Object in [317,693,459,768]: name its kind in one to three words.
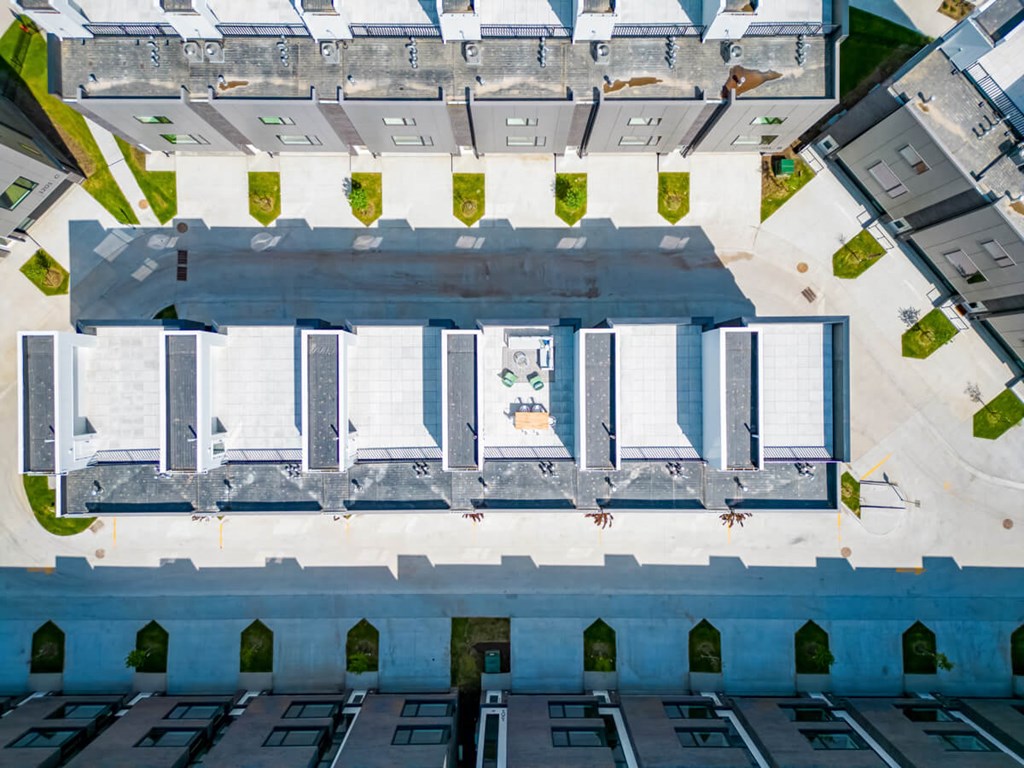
house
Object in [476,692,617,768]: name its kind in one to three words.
house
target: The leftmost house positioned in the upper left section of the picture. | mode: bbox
[0,100,89,257]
